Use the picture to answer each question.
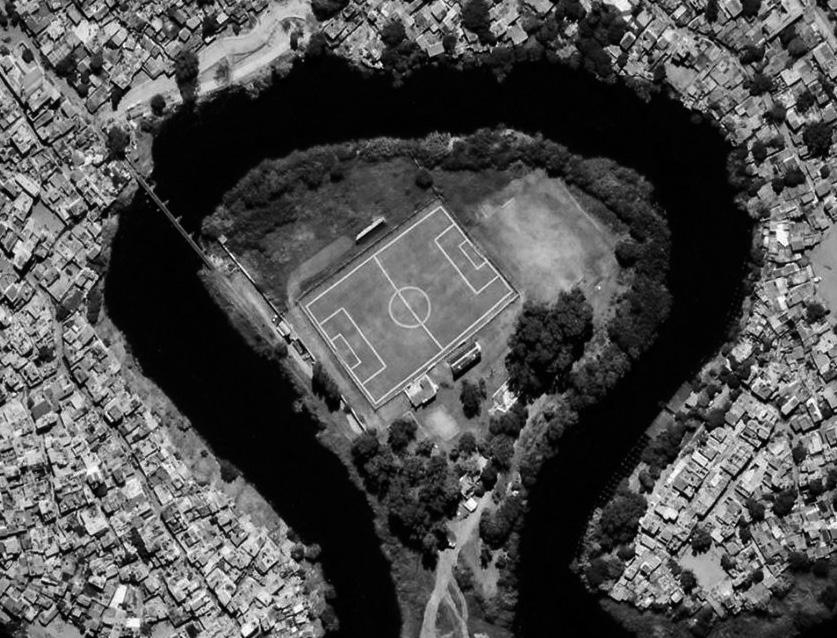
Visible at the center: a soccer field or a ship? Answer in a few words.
soccer field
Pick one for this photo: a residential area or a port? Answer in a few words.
residential area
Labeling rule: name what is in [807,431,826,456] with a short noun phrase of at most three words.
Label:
house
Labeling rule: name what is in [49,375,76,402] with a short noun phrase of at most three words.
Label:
house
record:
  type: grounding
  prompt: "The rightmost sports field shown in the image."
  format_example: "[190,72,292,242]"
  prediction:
[491,178,601,289]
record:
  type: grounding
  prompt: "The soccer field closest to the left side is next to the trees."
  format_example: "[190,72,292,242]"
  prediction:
[303,203,519,410]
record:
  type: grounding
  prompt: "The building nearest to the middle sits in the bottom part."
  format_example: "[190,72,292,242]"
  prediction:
[405,377,436,406]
